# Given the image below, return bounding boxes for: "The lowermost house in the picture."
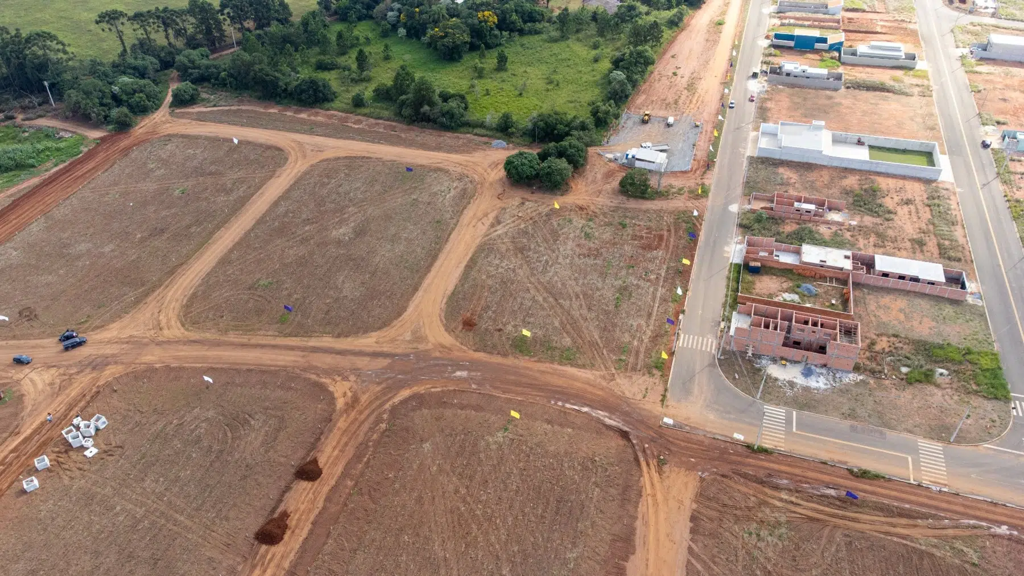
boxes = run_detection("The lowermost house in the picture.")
[729,301,861,373]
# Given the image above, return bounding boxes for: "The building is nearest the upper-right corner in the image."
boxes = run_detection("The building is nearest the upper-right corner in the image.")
[970,33,1024,63]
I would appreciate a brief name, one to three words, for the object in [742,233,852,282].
house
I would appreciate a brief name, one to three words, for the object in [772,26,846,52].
house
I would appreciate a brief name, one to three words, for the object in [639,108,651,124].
vehicle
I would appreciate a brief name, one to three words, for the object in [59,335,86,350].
car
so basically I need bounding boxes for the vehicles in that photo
[59,335,86,350]
[10,354,32,365]
[750,93,756,100]
[692,118,701,127]
[729,99,736,107]
[759,68,771,74]
[57,326,79,341]
[639,108,651,124]
[667,109,677,124]
[857,137,871,147]
[641,138,672,152]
